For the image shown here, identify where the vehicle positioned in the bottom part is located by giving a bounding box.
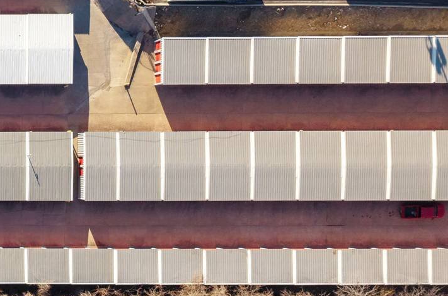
[398,202,446,219]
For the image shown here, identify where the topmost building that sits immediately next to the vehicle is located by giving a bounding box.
[77,130,448,201]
